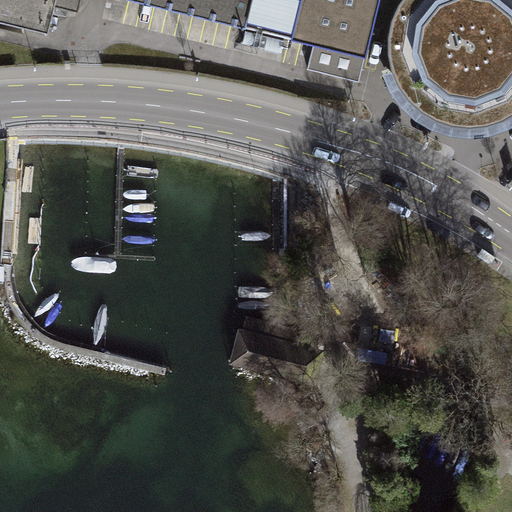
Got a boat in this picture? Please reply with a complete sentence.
Yes, the frame does contain a boat.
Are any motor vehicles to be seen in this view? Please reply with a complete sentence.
Yes, the frame does contain a motor vehicle.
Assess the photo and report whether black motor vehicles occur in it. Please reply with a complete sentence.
Yes, the image includes a black motor vehicle.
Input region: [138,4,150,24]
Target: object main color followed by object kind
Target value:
white vehicle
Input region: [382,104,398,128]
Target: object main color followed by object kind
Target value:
black car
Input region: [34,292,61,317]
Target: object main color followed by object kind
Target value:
white boat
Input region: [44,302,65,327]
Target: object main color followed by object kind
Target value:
blue boat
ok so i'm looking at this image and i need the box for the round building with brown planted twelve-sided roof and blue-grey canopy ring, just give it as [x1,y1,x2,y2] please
[376,0,512,140]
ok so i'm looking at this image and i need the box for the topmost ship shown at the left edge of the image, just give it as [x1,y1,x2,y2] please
[22,166,34,192]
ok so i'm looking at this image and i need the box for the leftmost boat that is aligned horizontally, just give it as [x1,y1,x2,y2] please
[70,256,120,274]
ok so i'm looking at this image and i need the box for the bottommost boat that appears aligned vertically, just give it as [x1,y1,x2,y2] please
[93,304,108,345]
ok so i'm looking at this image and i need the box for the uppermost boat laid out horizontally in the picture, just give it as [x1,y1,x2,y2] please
[124,164,158,179]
